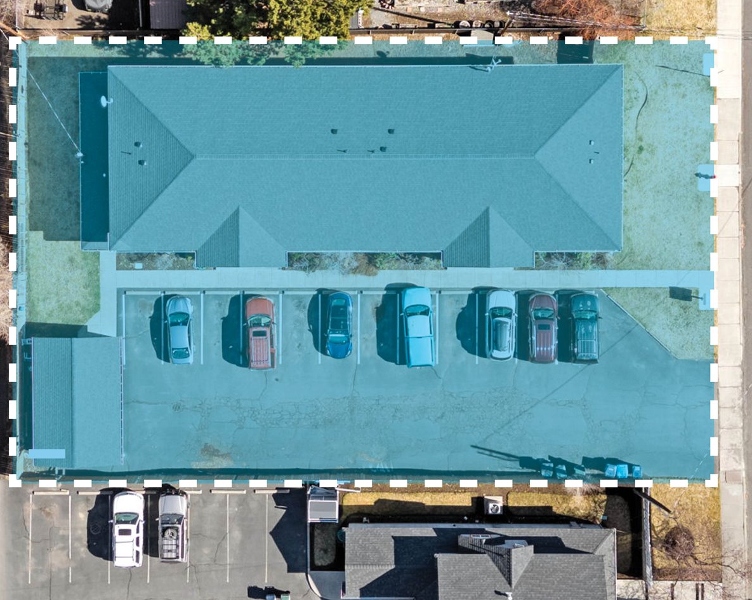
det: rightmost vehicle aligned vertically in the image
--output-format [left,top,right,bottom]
[569,292,602,362]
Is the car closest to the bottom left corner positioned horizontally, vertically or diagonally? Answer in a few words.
vertically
